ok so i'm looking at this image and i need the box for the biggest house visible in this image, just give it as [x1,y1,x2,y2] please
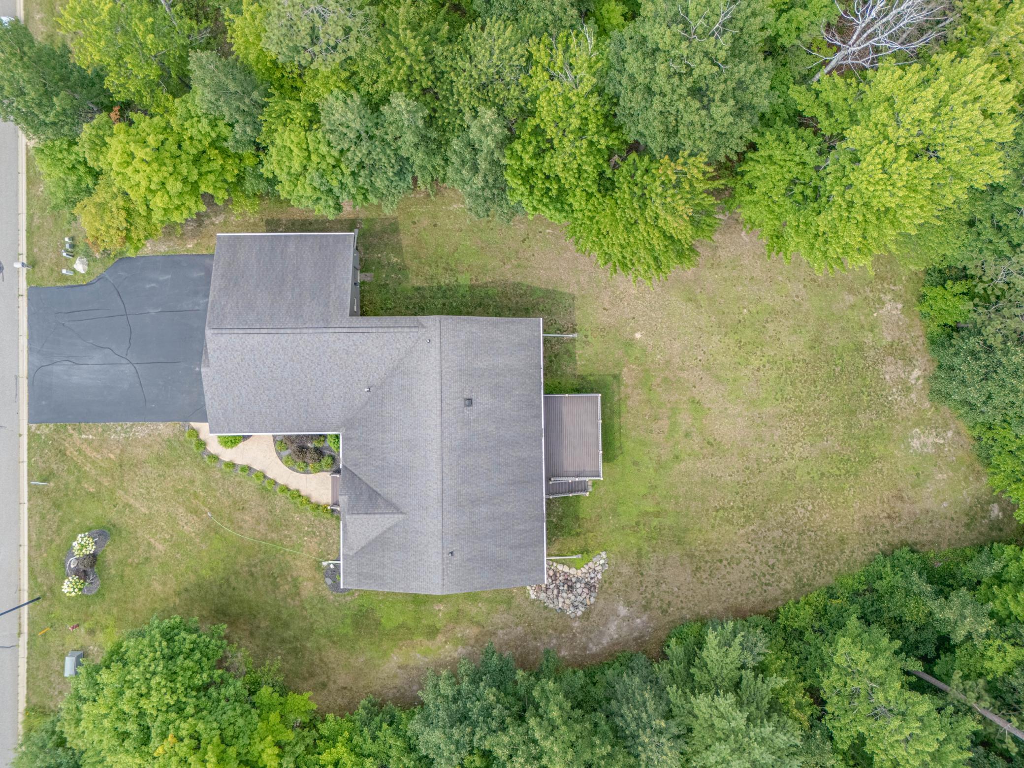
[202,229,581,595]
